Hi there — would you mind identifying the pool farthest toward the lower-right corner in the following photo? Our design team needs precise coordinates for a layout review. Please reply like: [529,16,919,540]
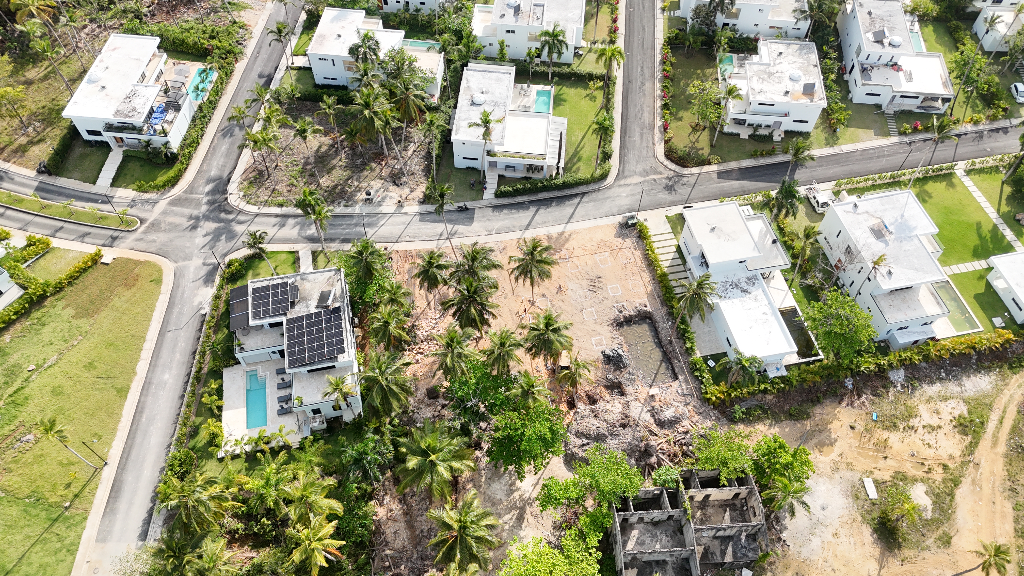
[936,264,980,334]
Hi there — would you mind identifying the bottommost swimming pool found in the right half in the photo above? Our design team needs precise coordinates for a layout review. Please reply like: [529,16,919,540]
[778,304,822,361]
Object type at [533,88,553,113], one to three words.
swimming pool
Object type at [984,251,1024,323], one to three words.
building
